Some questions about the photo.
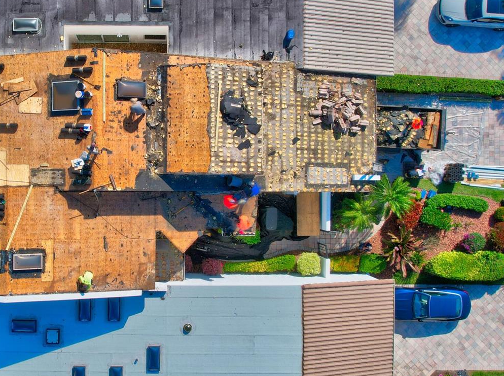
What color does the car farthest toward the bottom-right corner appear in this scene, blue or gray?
blue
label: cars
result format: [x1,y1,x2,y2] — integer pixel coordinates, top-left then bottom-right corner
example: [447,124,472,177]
[395,285,472,325]
[433,0,504,32]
